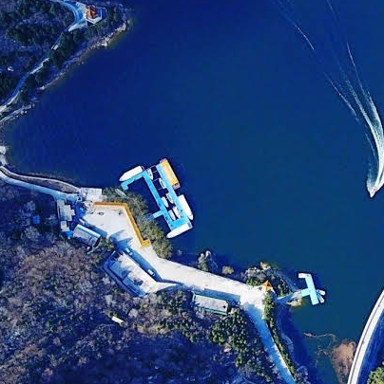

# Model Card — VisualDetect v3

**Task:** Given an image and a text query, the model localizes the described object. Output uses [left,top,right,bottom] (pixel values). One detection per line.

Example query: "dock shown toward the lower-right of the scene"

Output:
[277,273,319,304]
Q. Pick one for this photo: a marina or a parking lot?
marina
